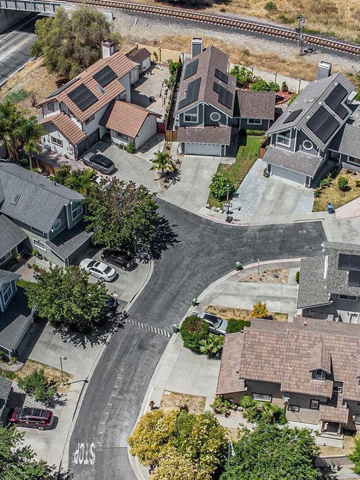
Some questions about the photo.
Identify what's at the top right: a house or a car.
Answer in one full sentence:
What appears at the top right is a house.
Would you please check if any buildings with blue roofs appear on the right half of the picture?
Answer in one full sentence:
No, no building with a blue roof can be made out on the right half of the picture.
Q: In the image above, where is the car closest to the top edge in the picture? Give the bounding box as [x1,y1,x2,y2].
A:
[83,152,116,175]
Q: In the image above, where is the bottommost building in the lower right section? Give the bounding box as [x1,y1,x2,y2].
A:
[213,313,360,444]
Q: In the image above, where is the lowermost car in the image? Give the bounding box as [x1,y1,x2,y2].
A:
[8,405,56,431]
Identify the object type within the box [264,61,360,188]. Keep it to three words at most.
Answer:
house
